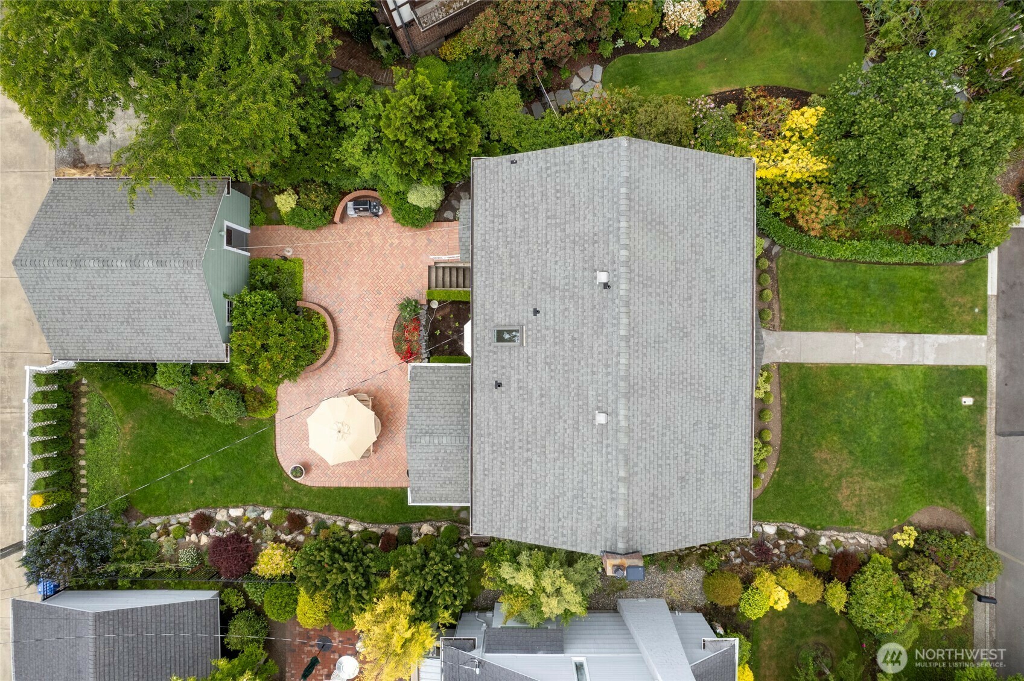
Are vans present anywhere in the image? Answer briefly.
No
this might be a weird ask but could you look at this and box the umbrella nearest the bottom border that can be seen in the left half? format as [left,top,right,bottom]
[304,637,331,680]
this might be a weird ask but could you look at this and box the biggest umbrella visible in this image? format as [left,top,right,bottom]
[307,396,377,465]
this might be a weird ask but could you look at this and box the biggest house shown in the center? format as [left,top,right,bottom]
[406,140,766,582]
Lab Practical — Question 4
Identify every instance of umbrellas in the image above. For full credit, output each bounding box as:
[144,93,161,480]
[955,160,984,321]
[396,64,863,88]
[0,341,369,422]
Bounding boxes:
[307,396,377,465]
[304,637,331,680]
